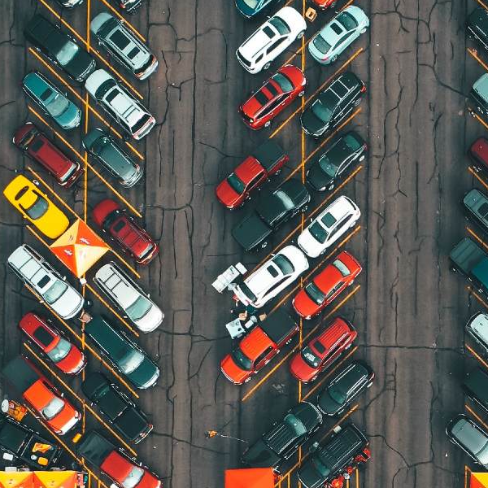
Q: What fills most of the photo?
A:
paved ground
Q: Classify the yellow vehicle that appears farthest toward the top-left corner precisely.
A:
car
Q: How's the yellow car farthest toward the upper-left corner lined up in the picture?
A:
diagonally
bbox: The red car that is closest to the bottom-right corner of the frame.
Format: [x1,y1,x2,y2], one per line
[292,319,358,384]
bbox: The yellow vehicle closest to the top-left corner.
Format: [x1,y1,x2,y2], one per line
[3,176,71,241]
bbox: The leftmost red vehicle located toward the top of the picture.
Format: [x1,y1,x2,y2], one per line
[16,126,83,190]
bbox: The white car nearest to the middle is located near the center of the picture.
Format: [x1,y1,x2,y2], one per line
[238,248,307,310]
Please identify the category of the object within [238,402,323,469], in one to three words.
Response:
truck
